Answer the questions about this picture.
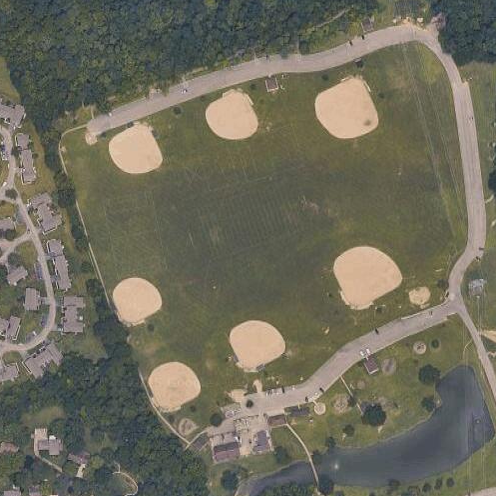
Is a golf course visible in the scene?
No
